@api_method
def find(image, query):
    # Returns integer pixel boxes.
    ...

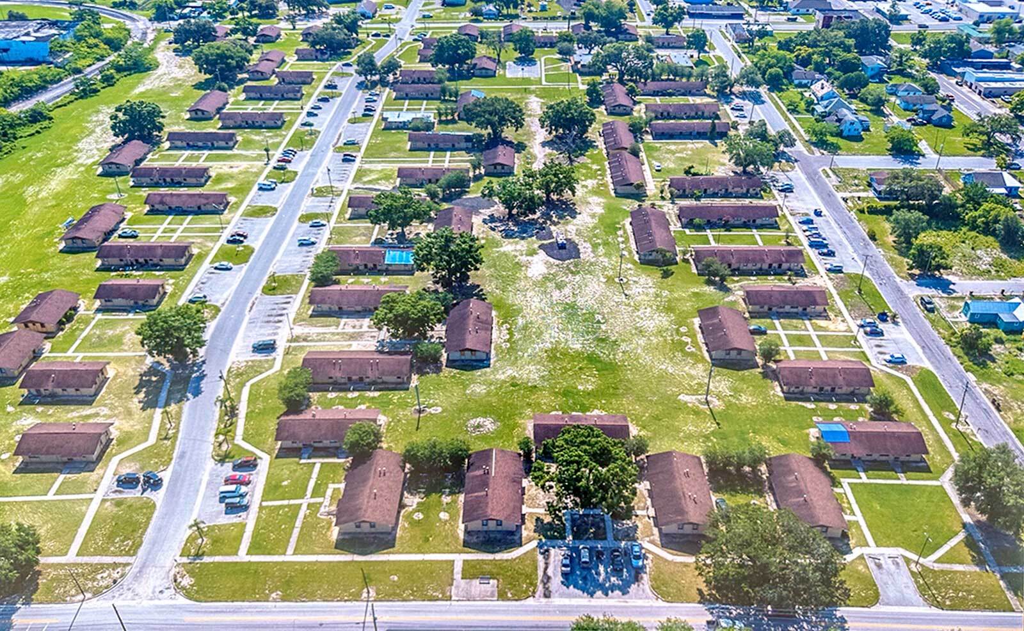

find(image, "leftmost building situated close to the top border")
[0,20,75,60]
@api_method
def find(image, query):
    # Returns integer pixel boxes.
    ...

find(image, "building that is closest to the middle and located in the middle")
[444,299,495,361]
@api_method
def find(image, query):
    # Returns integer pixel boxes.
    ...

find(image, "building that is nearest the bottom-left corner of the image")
[13,422,114,469]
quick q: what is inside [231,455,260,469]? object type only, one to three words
car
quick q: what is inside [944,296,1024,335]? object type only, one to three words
house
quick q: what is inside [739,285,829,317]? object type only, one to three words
building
